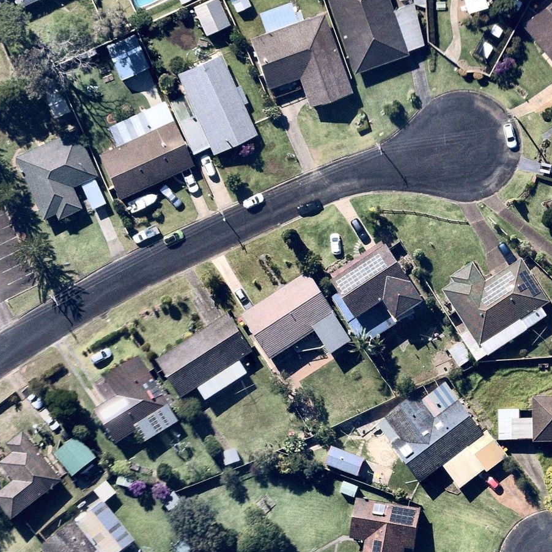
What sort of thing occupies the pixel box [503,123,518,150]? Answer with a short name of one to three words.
car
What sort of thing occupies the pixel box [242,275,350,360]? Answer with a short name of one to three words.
house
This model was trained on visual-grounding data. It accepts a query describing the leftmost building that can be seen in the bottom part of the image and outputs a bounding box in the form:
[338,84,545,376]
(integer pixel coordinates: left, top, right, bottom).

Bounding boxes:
[0,431,62,520]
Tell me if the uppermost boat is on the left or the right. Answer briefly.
left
